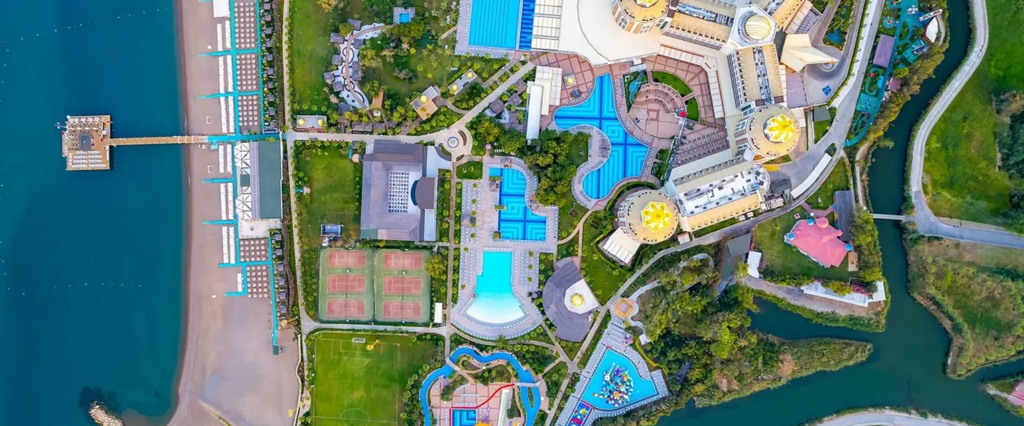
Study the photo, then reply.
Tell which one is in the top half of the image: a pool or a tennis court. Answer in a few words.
pool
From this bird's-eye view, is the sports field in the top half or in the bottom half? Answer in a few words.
bottom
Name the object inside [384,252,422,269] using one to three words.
tennis court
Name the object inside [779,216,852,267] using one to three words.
building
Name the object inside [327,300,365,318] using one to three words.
tennis court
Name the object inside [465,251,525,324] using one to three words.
swimming pool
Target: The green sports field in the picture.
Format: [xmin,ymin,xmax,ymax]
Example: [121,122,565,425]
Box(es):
[310,334,445,426]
